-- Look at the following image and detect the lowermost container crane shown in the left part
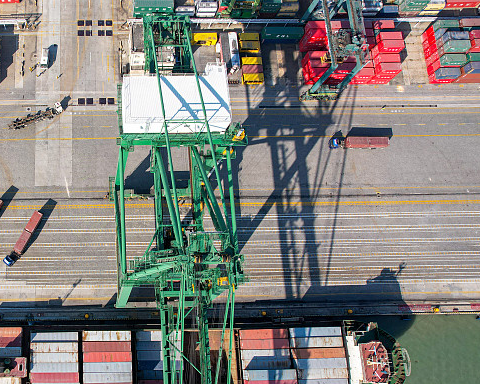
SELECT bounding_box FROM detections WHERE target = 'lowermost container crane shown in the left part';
[102,10,265,384]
